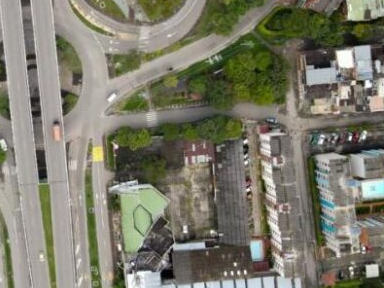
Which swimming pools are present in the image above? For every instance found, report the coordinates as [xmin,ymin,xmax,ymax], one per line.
[360,178,384,200]
[251,236,273,262]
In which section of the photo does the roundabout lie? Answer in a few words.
top left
